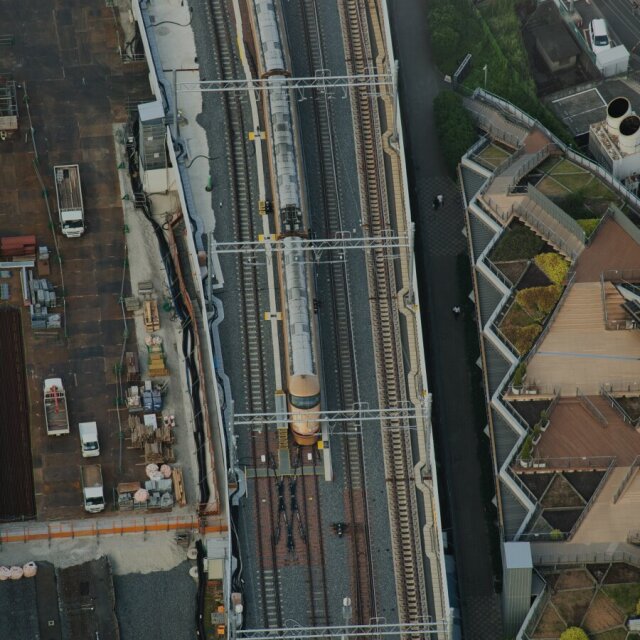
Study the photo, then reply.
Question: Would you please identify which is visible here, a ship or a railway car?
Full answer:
Looking from above, you can make out a railway car.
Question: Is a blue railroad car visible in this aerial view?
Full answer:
No, I find no blue railroad car anywhere in the image.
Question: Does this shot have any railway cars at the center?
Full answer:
Yes, at the center there is a railway car.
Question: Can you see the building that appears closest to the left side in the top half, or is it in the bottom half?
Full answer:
The building that appears closest to the left side sits in the top half of the picture.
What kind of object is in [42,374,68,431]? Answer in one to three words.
truck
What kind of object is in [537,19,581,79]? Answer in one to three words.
shed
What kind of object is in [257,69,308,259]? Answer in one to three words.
rail car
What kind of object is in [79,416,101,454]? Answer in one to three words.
truck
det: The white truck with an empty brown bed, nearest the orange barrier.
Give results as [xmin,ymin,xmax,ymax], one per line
[81,462,106,510]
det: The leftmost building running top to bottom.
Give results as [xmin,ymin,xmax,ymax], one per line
[138,91,169,161]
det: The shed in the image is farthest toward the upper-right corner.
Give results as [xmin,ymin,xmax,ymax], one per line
[596,45,629,82]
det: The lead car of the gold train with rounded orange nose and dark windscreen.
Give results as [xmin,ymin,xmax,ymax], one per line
[277,232,319,445]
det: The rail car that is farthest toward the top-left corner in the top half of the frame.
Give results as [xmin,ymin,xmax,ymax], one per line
[245,0,286,96]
